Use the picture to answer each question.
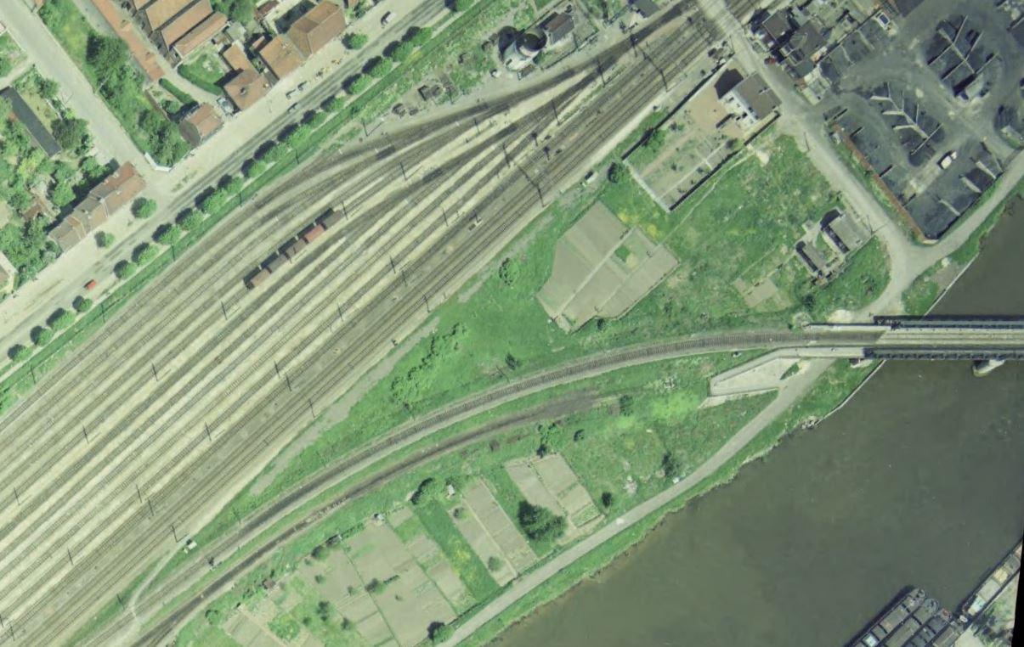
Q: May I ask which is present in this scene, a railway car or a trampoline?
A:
railway car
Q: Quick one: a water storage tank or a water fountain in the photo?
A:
water storage tank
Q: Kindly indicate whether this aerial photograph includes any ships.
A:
Yes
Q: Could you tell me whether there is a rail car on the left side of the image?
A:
Yes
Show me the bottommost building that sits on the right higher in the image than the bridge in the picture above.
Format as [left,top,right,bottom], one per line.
[799,241,829,274]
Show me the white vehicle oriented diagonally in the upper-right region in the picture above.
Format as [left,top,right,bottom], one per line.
[942,150,959,166]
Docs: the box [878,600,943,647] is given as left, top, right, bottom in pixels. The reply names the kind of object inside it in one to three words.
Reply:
ship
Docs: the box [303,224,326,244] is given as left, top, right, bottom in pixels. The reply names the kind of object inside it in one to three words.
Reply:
rail car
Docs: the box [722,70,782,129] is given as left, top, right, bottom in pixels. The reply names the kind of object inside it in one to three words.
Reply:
house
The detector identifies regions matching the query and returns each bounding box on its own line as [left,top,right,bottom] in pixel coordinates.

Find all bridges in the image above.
[778,322,1024,376]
